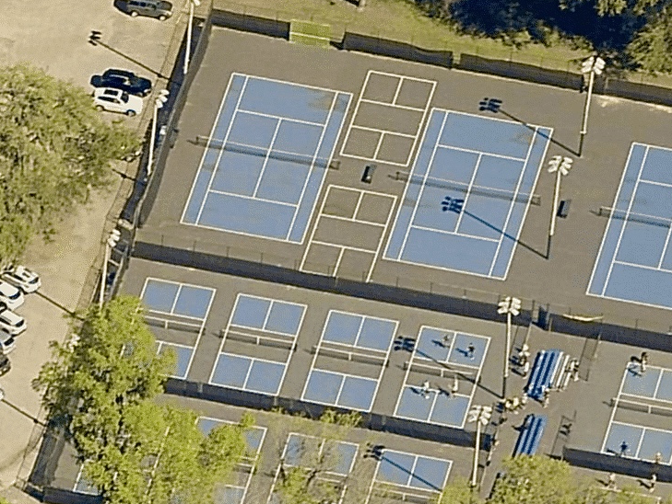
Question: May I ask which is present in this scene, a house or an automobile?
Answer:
automobile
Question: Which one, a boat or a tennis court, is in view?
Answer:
tennis court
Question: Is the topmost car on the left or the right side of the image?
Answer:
left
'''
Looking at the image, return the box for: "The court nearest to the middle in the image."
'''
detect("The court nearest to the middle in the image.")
[301,185,395,282]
